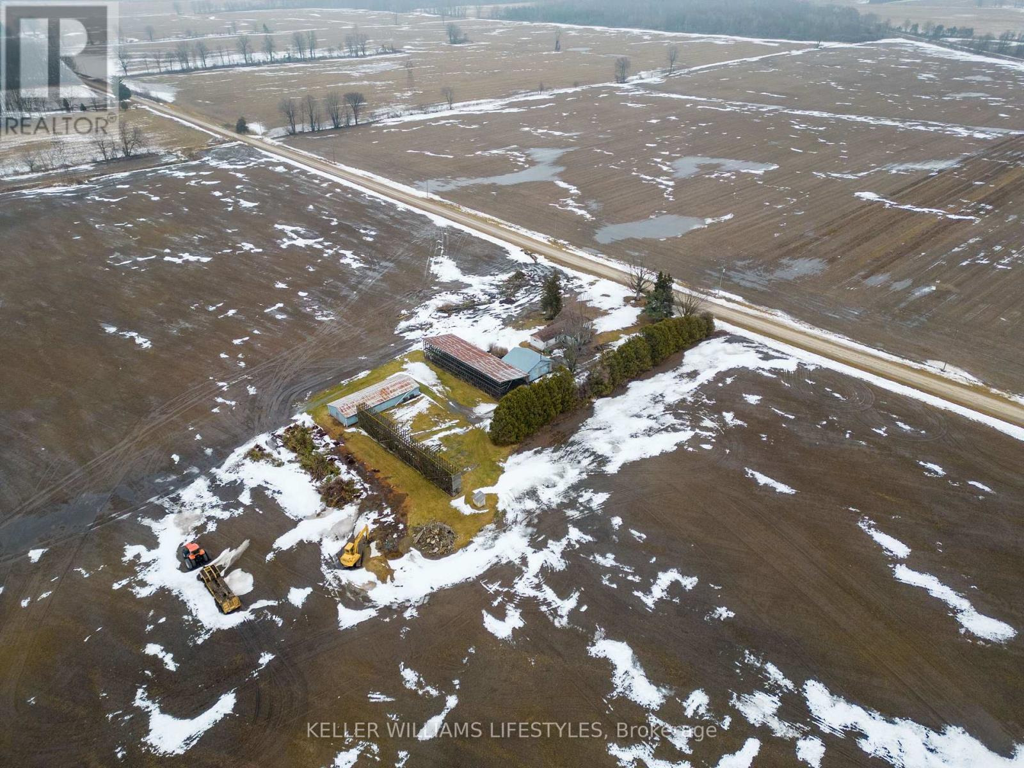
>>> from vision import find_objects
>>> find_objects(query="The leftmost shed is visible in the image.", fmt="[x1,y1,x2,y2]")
[324,369,420,427]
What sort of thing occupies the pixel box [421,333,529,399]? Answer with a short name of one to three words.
shed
